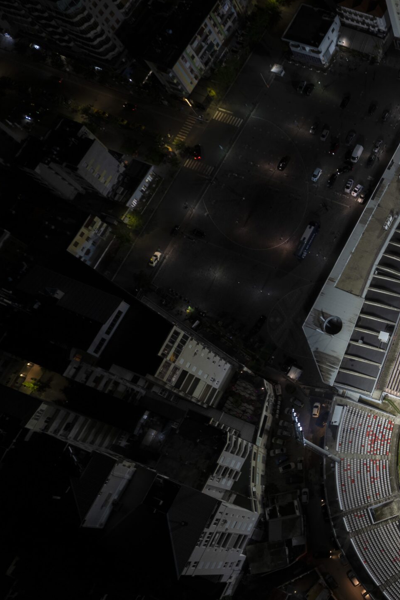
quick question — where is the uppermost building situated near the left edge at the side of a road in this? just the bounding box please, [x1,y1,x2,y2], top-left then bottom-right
[0,0,135,70]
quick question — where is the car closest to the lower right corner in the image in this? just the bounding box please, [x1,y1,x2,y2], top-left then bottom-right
[360,585,374,600]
